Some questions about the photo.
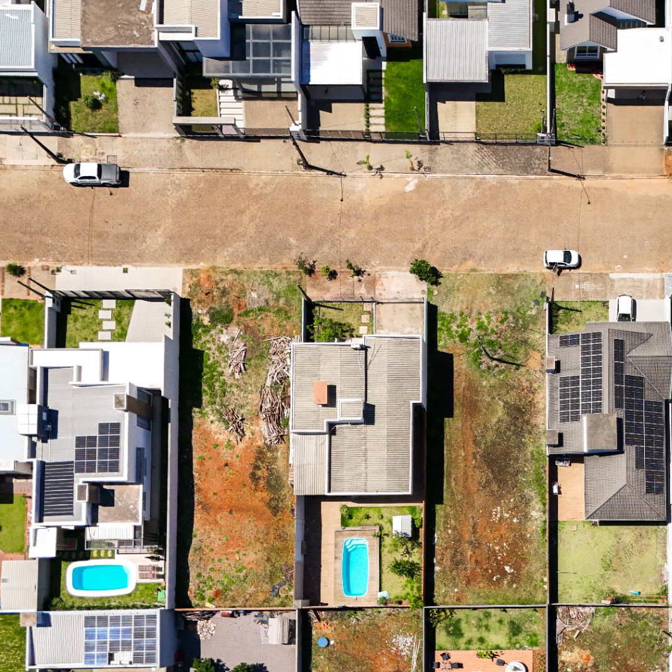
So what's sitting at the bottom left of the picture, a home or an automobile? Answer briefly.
home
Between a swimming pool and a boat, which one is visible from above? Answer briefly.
swimming pool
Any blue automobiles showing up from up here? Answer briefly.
No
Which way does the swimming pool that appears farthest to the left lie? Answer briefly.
horizontally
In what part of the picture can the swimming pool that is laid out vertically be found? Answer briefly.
bottom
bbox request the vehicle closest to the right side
[615,289,635,322]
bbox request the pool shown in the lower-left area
[64,559,137,597]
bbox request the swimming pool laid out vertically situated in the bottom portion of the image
[342,537,368,598]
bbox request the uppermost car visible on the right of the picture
[543,249,579,277]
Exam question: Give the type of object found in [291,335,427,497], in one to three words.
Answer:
house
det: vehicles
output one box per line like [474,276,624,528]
[543,249,579,277]
[62,159,118,185]
[615,289,635,322]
